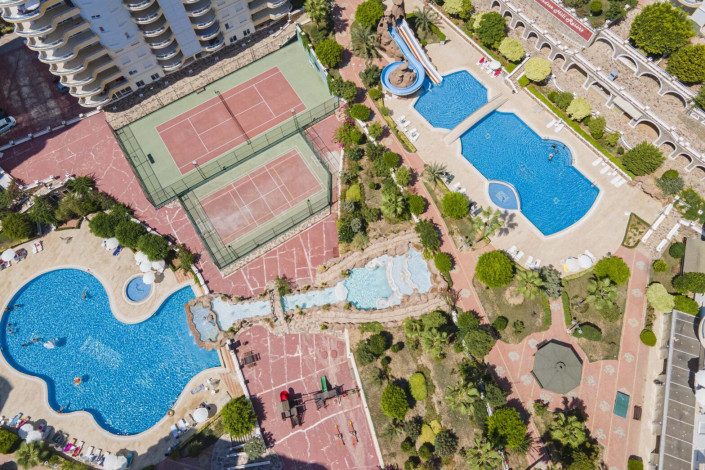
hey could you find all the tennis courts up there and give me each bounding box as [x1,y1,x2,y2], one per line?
[180,132,330,266]
[116,40,336,194]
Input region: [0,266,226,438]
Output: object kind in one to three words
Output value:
swimming pool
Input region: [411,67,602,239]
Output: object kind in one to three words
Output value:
swimming pool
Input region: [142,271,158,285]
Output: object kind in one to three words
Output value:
umbrella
